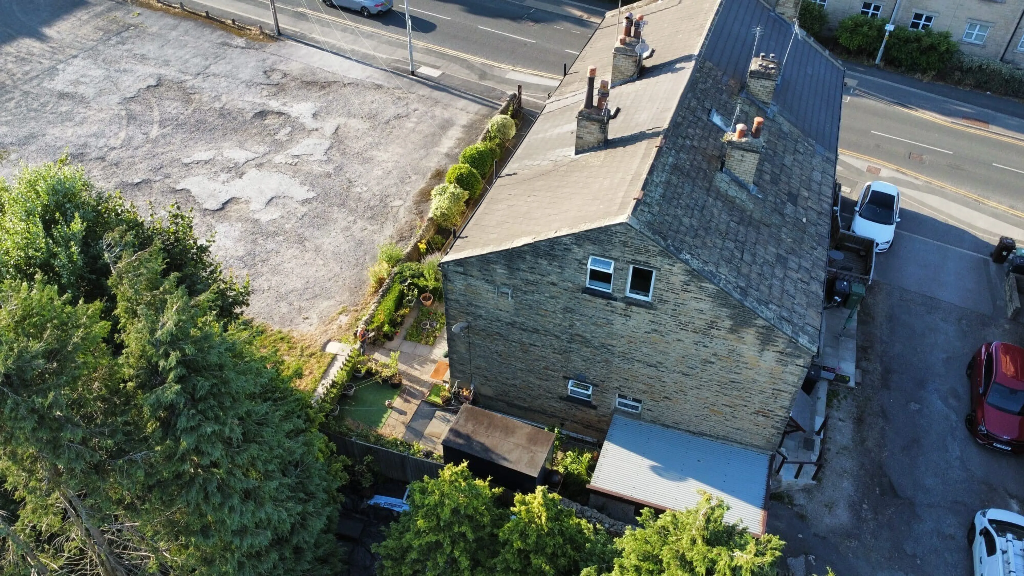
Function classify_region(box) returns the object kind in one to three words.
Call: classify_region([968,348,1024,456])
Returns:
car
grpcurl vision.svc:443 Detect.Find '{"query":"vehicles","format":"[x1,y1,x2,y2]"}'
[968,348,1024,456]
[322,0,397,18]
[852,183,908,256]
[968,507,1024,576]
